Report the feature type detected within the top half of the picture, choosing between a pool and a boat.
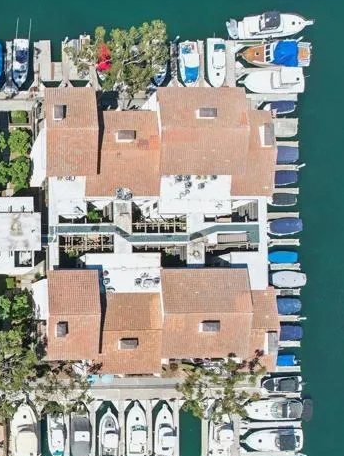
boat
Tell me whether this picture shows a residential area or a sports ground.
residential area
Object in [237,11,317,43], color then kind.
white boat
